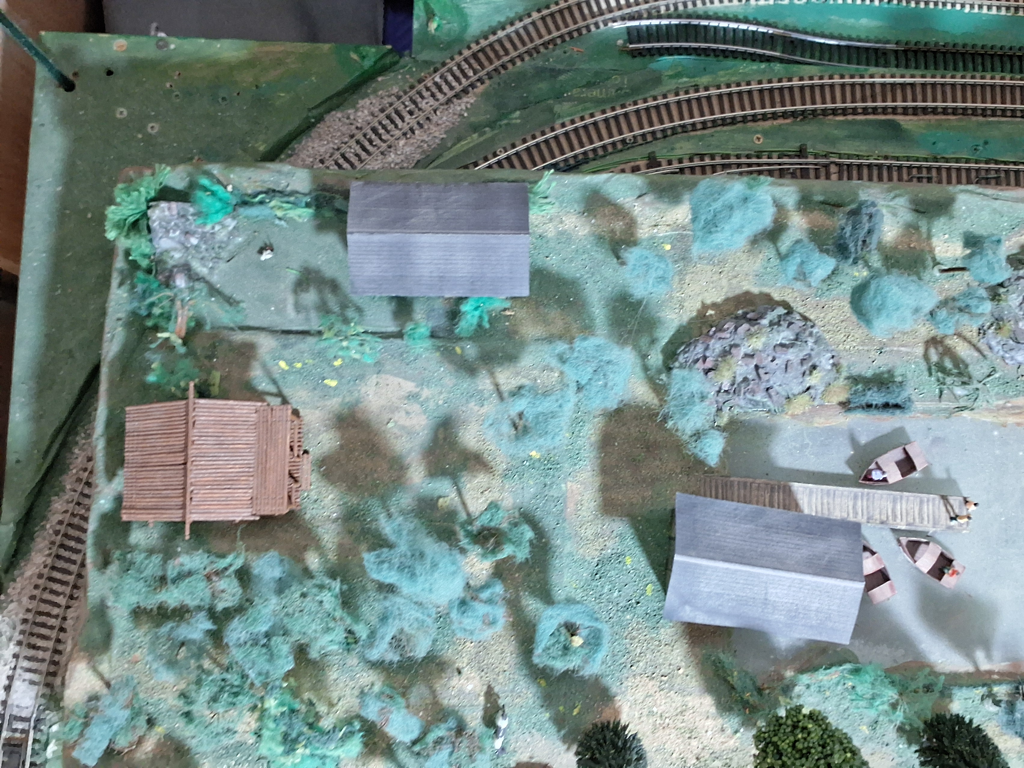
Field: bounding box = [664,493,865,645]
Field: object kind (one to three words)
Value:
building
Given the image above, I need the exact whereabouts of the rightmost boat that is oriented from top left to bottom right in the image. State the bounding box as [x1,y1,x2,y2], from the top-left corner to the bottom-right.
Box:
[899,537,966,588]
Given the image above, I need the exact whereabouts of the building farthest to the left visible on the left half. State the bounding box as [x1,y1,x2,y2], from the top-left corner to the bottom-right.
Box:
[121,382,310,539]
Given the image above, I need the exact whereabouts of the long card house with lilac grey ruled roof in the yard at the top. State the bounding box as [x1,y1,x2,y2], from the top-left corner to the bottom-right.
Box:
[347,182,530,297]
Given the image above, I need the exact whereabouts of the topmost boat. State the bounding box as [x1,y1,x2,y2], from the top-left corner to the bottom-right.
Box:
[859,442,927,484]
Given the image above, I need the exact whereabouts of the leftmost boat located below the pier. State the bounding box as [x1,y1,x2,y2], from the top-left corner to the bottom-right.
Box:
[861,541,895,603]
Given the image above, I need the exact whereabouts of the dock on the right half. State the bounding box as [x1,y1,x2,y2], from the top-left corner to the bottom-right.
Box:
[694,474,970,532]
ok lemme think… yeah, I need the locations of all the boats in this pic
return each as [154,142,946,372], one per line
[861,541,895,603]
[859,442,927,484]
[899,537,966,588]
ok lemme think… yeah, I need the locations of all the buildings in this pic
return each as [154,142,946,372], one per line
[664,493,865,645]
[347,182,530,297]
[121,382,310,539]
